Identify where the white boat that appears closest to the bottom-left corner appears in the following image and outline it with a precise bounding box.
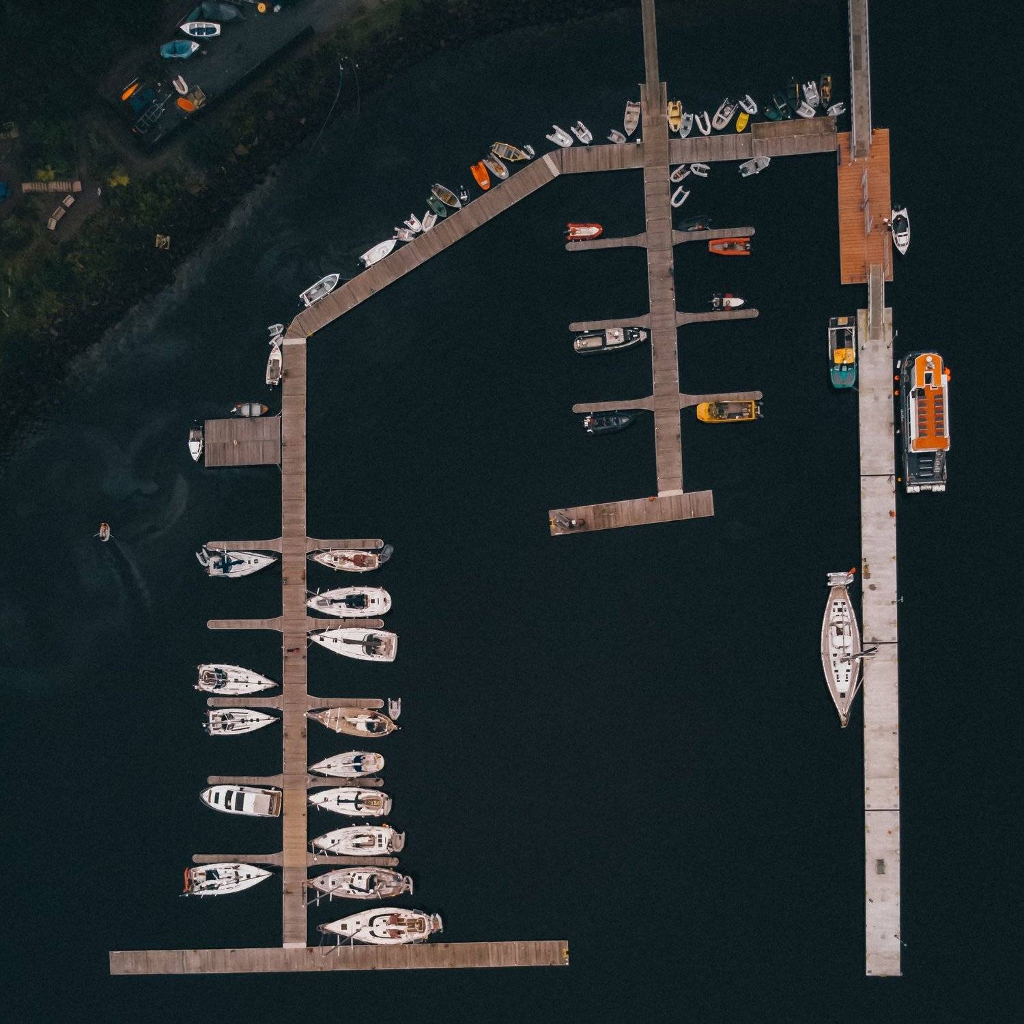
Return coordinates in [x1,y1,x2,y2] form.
[189,861,284,898]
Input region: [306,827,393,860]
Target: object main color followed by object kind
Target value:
white boat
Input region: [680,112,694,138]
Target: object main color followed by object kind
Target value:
gray boat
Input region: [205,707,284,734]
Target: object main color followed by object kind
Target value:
white boat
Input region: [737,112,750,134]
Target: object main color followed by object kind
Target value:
yellow boat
